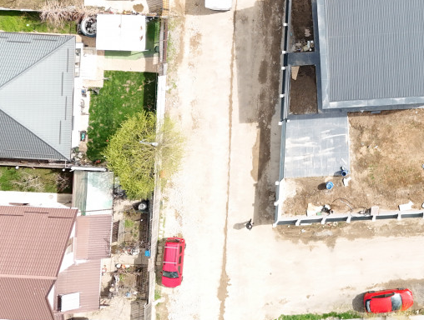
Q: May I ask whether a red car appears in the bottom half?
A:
Yes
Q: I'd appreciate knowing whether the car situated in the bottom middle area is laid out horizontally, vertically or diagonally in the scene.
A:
vertically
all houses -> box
[0,203,80,320]
[0,30,86,162]
[317,0,424,109]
